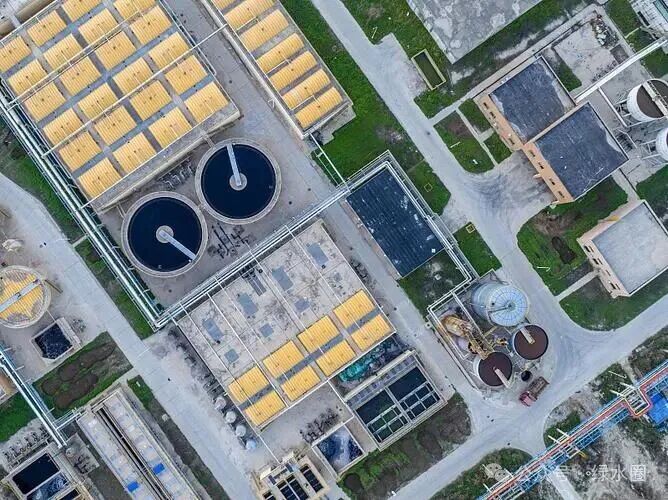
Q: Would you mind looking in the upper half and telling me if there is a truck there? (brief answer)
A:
No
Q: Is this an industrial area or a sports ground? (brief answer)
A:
industrial area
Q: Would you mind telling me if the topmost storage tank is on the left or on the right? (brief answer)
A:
right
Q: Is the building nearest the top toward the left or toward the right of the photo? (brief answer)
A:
right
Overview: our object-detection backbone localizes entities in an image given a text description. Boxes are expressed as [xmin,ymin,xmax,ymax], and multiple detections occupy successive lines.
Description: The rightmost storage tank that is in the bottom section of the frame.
[506,321,549,360]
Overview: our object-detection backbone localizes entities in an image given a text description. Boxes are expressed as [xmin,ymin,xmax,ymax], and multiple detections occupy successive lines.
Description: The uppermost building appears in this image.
[481,56,585,149]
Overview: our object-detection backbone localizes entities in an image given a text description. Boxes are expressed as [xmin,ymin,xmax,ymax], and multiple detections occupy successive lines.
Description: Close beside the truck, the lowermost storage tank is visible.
[472,348,512,392]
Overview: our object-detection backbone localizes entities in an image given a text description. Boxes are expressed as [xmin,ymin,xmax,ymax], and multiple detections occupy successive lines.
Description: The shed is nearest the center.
[346,168,446,278]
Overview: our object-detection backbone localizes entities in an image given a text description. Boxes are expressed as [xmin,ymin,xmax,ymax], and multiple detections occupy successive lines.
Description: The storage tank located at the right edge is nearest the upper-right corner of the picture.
[610,77,668,127]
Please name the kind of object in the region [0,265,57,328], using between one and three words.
storage tank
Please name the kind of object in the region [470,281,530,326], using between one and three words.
storage tank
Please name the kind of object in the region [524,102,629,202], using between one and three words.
building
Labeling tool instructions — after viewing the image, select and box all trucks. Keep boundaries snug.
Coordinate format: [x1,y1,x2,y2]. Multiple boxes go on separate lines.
[521,378,553,409]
